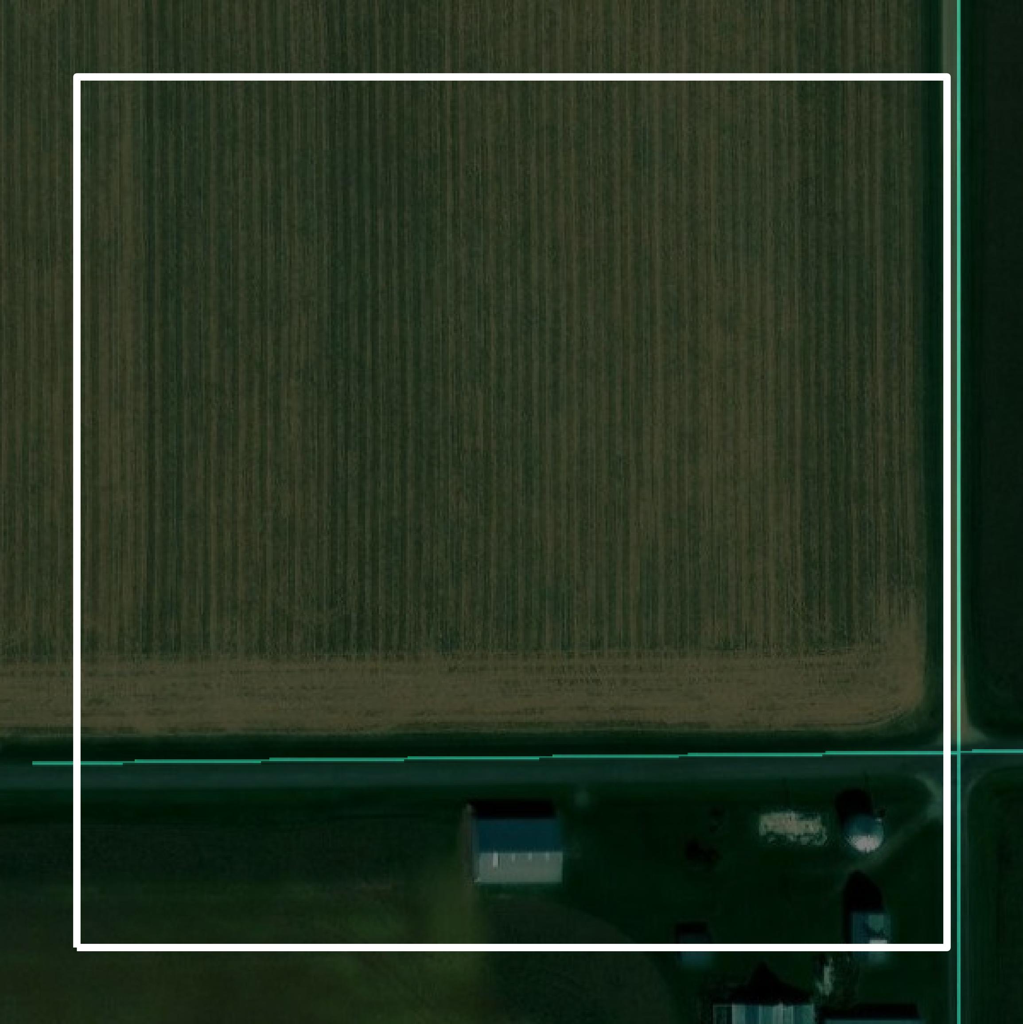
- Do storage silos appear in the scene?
Yes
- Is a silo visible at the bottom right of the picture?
Yes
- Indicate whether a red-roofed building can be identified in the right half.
No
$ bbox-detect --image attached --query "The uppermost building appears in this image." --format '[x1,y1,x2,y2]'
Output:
[472,818,563,883]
